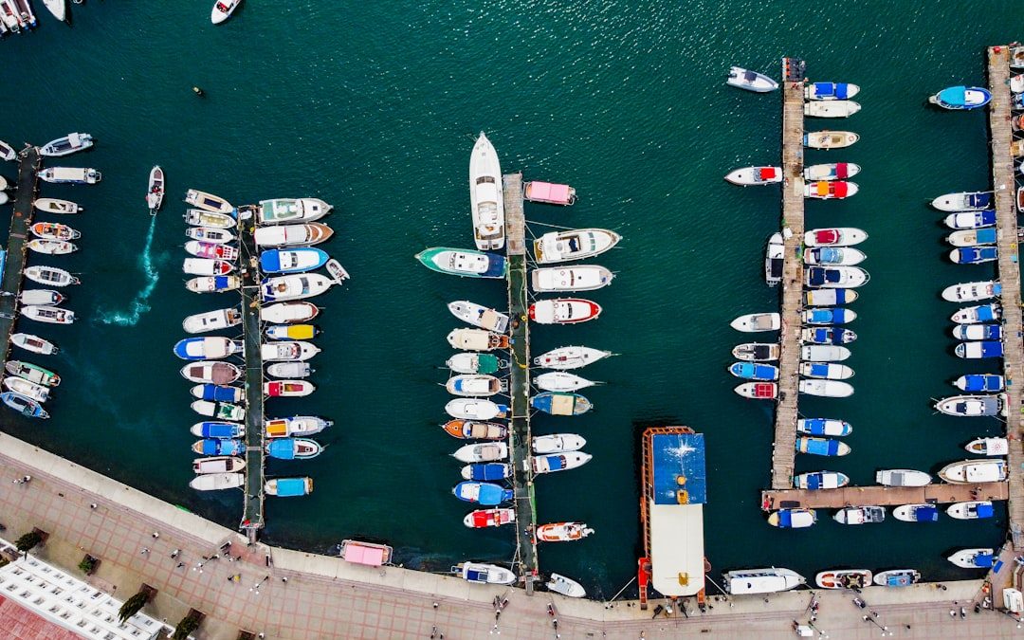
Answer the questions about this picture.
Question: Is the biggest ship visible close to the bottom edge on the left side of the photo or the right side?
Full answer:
You can find the biggest ship visible close to the bottom edge on the right side of the picture.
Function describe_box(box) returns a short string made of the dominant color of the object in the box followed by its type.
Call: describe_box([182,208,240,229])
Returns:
white boat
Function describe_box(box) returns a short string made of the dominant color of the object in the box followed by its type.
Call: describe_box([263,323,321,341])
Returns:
yellow boat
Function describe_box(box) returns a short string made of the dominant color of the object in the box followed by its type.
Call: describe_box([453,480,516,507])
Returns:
blue boat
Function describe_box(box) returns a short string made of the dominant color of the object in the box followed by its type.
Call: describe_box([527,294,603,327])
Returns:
white boat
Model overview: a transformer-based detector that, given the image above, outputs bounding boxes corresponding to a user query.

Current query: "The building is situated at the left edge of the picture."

[0,555,167,640]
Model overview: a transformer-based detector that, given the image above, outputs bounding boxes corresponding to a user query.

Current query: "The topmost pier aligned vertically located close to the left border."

[0,144,42,405]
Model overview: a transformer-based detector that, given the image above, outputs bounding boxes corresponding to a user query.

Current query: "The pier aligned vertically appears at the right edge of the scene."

[983,45,1024,542]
